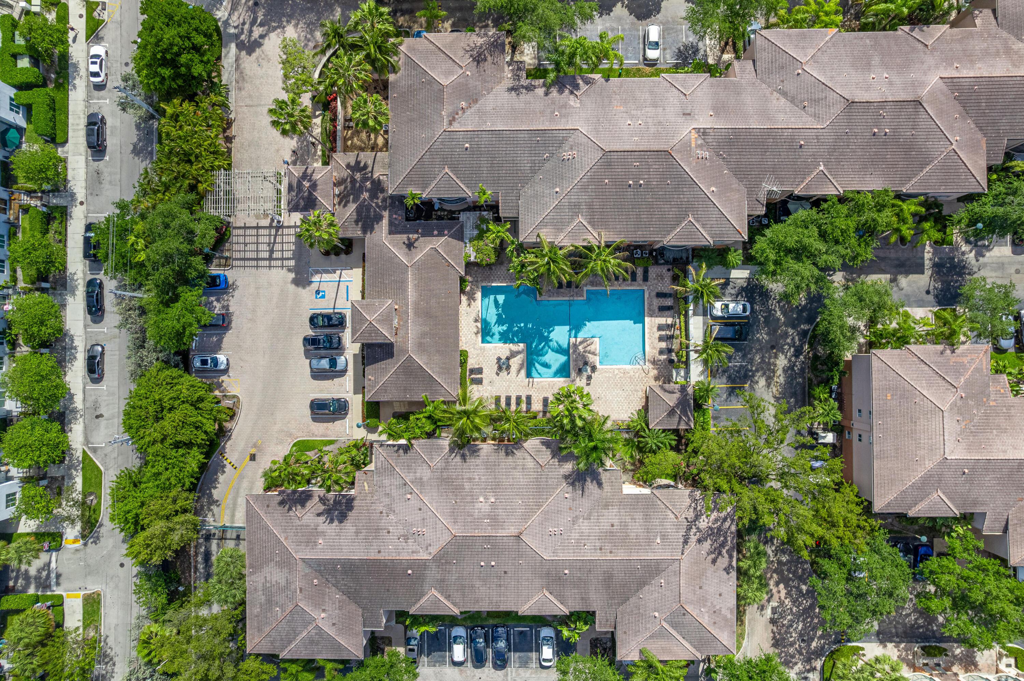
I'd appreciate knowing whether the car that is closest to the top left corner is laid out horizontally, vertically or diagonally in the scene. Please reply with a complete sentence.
The car that is closest to the top left corner has been laid out vertically relative to the frame.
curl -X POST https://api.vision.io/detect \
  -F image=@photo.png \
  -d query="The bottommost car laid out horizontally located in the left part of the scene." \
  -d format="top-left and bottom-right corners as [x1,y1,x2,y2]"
[310,397,349,416]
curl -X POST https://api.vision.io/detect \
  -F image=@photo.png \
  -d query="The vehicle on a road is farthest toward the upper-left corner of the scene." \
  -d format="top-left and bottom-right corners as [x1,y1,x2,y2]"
[88,46,109,86]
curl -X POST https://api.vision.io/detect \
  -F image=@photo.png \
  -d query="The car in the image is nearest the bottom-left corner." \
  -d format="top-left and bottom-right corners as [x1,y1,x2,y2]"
[85,342,107,380]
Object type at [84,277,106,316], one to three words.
car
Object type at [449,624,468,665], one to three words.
car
